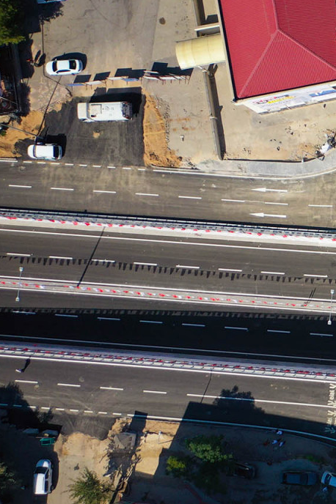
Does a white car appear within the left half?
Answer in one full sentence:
Yes, a white car is visible within the left half.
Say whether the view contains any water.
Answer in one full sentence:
No, the picture contains no water.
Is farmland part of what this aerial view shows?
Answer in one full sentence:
No, no farmland is visible.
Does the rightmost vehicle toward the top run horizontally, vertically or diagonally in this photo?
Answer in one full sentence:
The rightmost vehicle toward the top is laid out horizontally.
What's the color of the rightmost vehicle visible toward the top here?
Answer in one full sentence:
The color of the rightmost vehicle visible toward the top is white.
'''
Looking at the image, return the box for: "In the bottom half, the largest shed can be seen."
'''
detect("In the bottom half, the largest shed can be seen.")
[112,431,141,450]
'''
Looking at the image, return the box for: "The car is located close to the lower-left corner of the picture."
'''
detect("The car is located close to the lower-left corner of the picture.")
[32,458,54,495]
